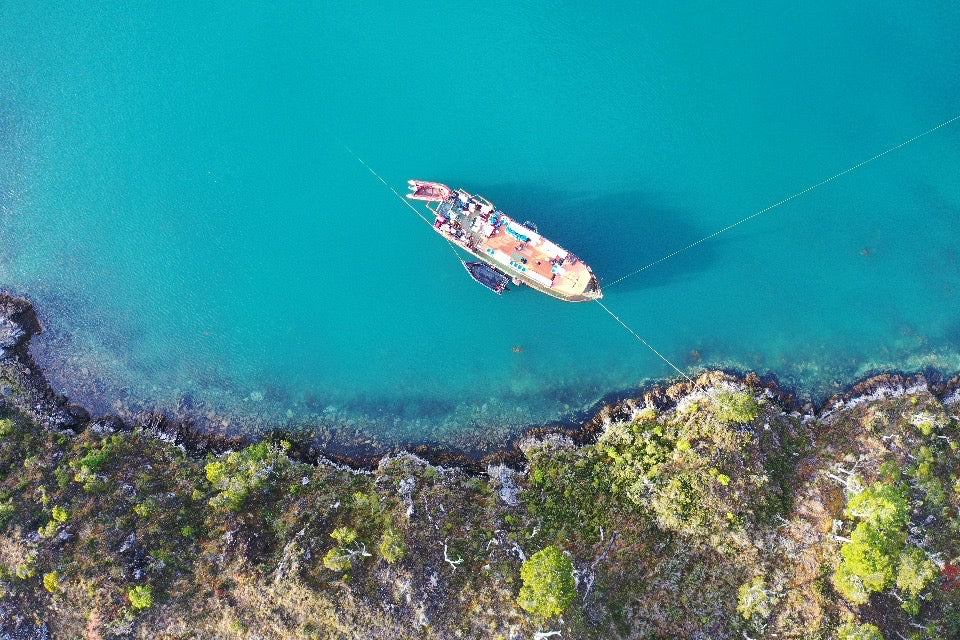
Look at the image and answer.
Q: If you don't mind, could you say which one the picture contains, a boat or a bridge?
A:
boat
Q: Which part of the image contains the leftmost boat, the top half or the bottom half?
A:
top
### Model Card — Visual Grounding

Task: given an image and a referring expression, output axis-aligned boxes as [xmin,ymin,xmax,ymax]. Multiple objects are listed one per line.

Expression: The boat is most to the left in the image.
[405,178,452,201]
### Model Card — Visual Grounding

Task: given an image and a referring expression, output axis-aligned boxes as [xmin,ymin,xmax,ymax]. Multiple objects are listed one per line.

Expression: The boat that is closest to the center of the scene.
[464,260,513,295]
